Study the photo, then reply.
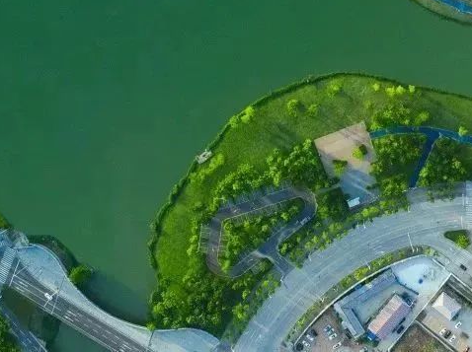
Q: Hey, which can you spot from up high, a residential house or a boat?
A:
residential house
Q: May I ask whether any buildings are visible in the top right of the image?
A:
No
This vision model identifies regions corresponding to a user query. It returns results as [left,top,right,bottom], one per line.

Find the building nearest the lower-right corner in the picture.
[433,294,462,324]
